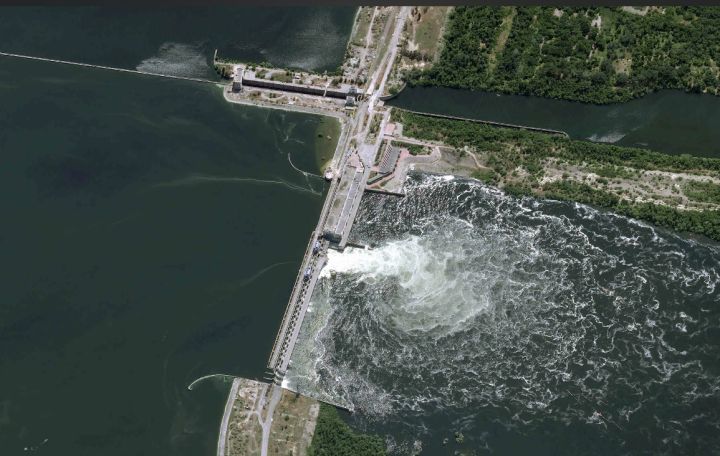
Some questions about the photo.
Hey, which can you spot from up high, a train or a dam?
dam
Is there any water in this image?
Yes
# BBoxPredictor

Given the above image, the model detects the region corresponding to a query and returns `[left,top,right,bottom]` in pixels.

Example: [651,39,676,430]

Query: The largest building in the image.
[314,169,367,249]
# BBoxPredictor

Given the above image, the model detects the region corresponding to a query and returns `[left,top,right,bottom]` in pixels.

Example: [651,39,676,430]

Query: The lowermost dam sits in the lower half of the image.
[263,230,330,385]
